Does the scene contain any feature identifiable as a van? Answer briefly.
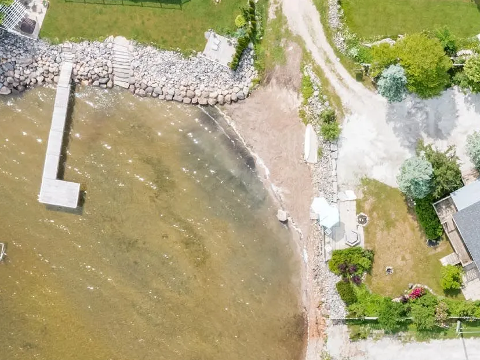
No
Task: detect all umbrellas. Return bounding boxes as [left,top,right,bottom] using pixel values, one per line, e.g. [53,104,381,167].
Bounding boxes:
[310,198,333,218]
[318,208,340,230]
